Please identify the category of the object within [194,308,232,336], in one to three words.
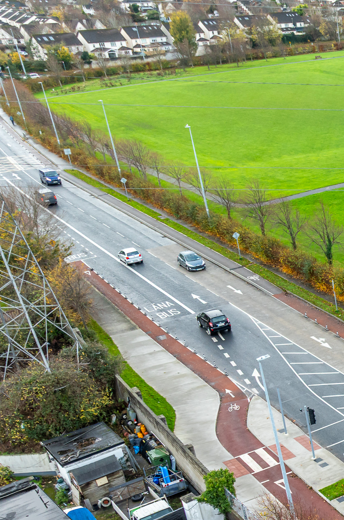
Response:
car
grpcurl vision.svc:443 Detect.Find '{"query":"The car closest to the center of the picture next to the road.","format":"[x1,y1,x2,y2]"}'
[175,248,206,270]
